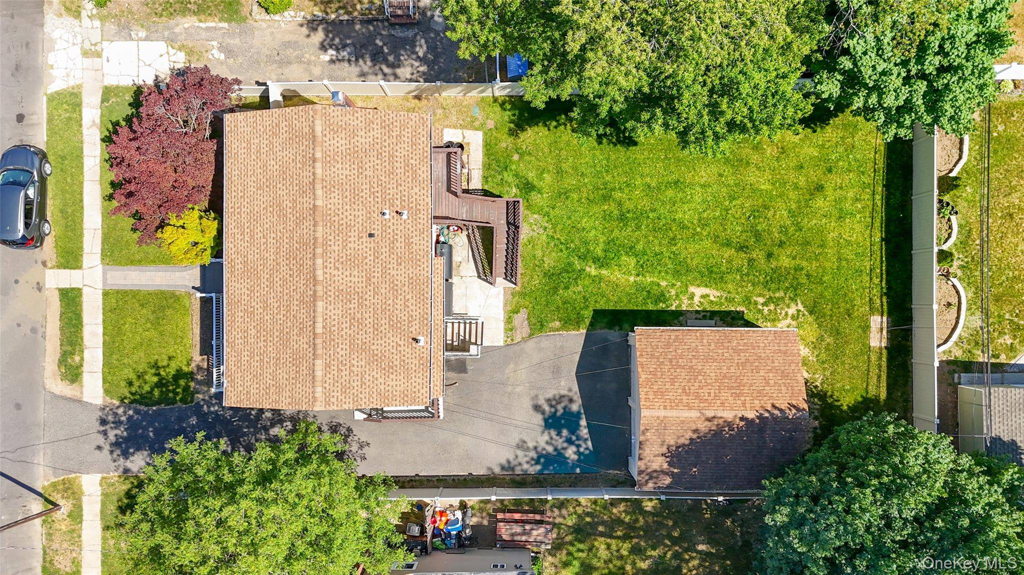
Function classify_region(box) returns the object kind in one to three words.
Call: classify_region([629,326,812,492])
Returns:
building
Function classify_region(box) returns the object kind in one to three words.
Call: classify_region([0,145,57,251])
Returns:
car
